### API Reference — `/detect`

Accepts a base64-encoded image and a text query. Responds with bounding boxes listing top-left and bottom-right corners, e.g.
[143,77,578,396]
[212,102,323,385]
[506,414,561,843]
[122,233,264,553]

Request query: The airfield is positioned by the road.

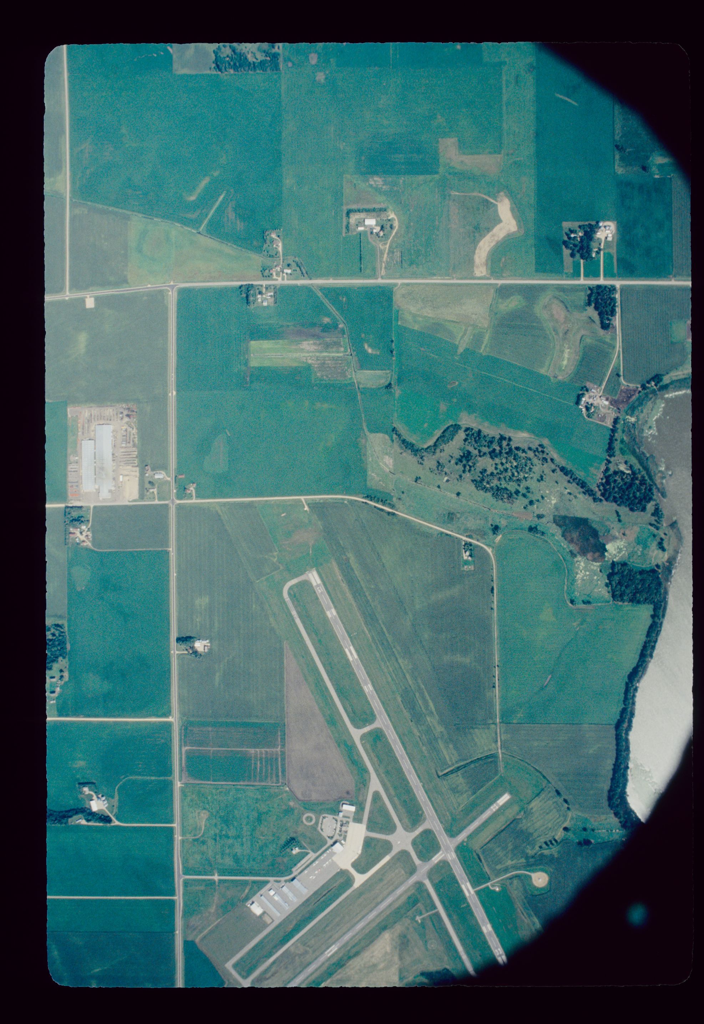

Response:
[224,559,553,1024]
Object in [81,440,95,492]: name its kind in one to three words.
shed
